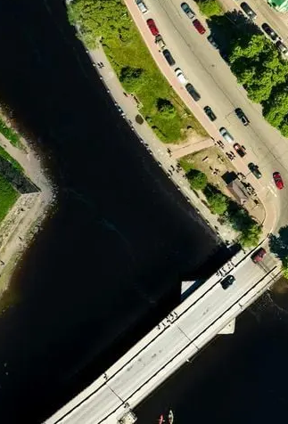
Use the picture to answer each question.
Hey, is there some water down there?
Yes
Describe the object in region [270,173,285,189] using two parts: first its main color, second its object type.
red car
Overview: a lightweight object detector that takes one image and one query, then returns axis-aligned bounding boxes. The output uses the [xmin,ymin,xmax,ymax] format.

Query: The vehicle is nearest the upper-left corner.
[135,0,147,14]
